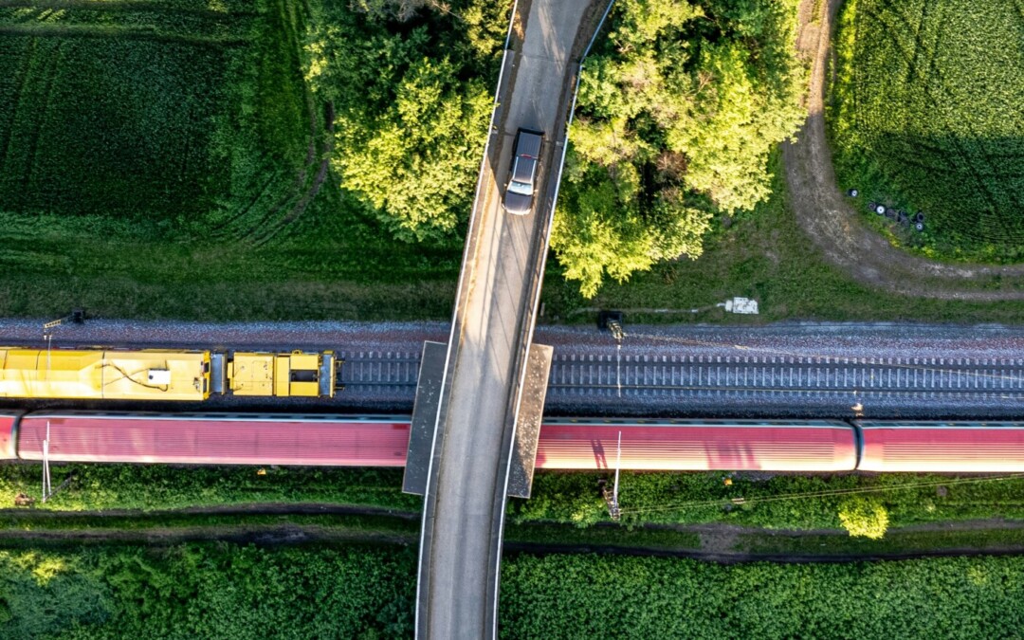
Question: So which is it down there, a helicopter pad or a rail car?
rail car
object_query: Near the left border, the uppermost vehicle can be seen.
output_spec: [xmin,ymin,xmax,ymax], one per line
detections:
[0,344,232,403]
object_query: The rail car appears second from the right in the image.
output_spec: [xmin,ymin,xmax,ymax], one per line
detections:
[534,415,858,470]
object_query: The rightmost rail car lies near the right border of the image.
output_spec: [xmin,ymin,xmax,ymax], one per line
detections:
[847,419,1024,471]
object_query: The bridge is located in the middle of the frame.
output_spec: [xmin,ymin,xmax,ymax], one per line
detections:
[402,50,583,640]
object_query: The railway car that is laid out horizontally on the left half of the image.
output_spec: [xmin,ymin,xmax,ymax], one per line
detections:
[16,407,413,465]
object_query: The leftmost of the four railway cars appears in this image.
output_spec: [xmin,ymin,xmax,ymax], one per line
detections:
[0,406,31,458]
